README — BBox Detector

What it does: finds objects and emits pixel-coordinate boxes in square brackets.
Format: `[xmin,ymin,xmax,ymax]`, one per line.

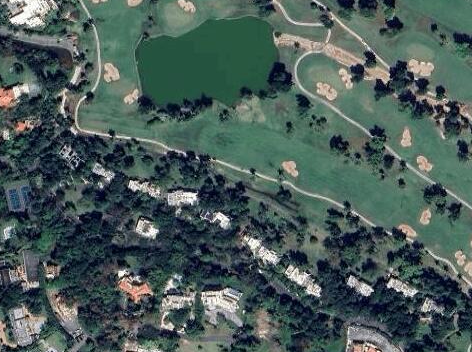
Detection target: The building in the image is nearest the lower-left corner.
[12,309,42,346]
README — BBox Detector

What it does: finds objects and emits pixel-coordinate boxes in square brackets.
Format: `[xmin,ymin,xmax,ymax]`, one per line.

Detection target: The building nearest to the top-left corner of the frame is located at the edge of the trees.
[8,0,59,28]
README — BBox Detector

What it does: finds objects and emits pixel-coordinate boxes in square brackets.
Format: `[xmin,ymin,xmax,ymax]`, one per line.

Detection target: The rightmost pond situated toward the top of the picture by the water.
[135,16,279,105]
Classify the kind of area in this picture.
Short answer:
golf course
